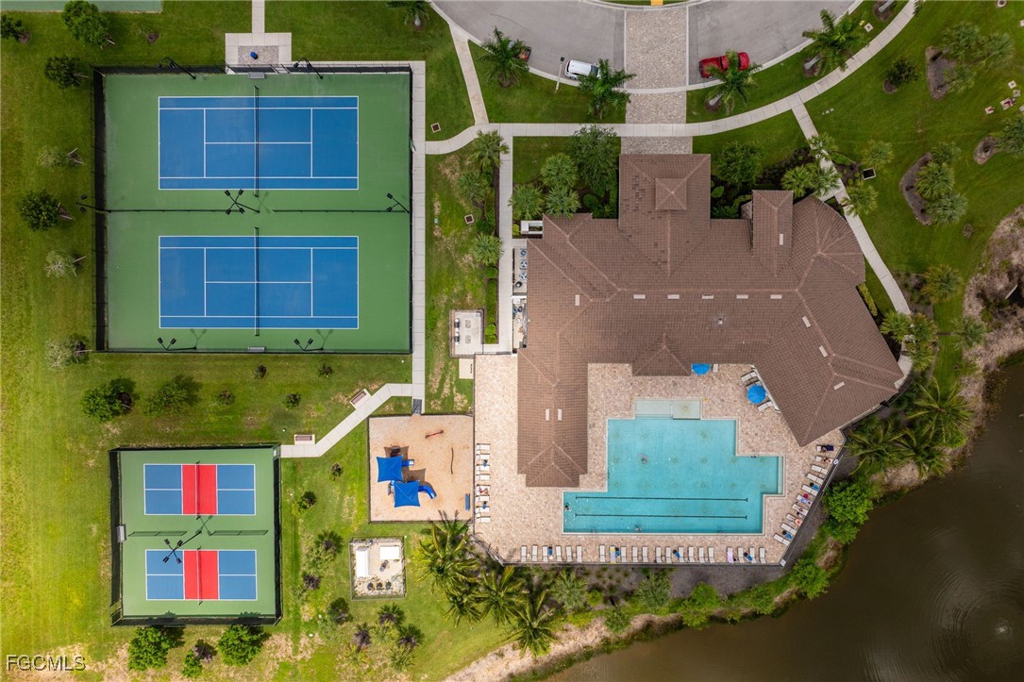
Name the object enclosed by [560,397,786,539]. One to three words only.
swimming pool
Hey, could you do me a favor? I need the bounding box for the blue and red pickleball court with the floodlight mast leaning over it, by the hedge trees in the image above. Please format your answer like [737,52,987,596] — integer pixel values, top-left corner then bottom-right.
[122,532,275,617]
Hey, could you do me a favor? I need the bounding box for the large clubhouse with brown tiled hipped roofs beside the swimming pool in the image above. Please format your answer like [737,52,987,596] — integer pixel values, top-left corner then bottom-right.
[517,152,905,488]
